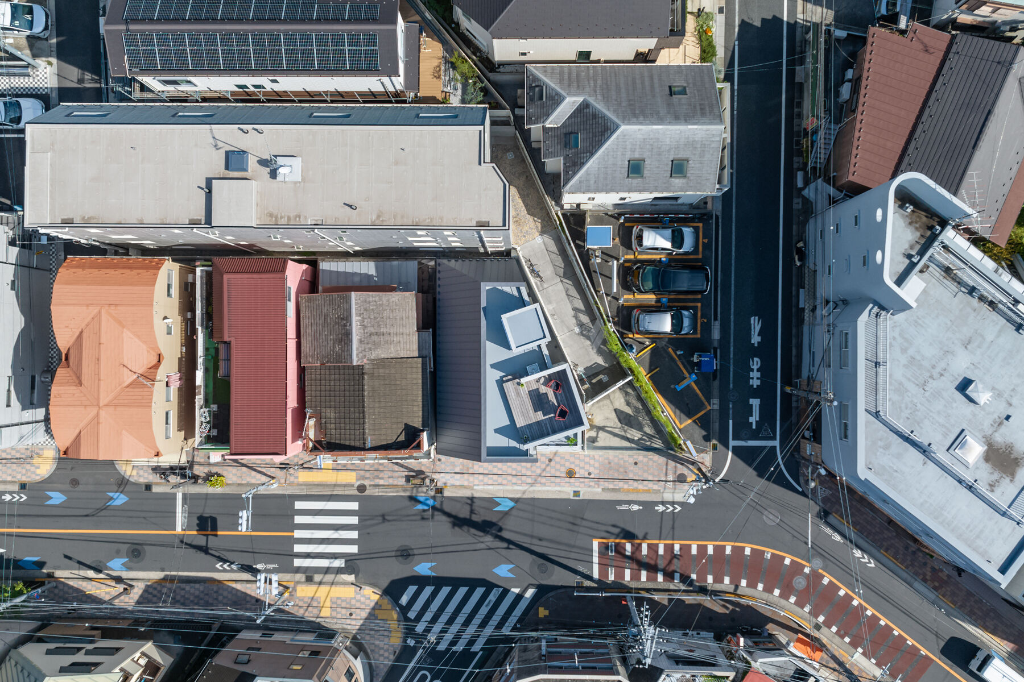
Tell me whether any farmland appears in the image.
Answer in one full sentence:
No, the picture contains no farmland.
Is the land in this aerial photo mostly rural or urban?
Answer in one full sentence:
It looks urban.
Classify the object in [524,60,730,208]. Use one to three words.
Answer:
house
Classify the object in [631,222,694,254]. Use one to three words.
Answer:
car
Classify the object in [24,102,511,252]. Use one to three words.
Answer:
building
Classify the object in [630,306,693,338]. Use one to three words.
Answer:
car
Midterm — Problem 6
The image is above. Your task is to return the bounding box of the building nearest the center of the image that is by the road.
[436,259,591,463]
